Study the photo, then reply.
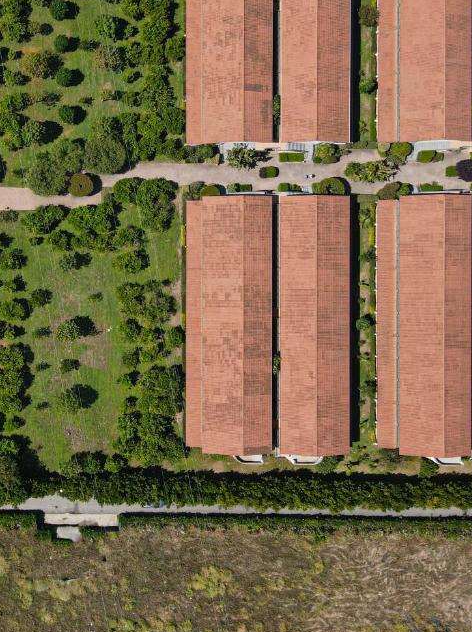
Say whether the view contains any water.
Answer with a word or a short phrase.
No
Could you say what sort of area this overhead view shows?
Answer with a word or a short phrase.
residential area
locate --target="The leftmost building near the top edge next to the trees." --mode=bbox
[184,0,273,149]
